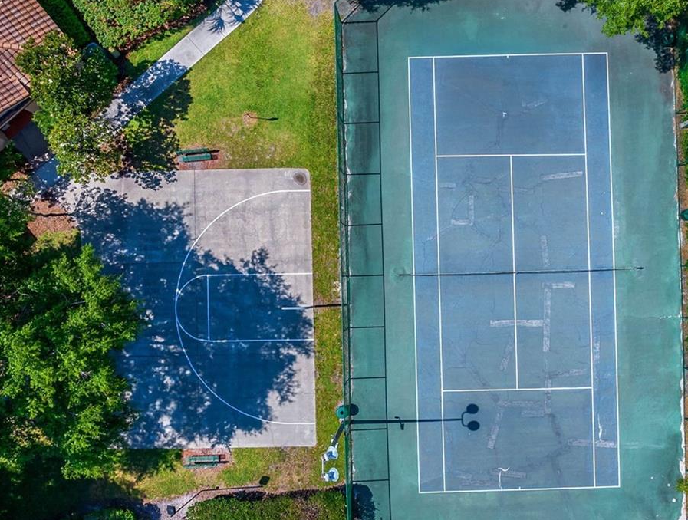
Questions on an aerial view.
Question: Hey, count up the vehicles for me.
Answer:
zero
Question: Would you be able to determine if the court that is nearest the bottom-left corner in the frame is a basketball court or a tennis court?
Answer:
basketball court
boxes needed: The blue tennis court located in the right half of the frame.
[342,0,687,520]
